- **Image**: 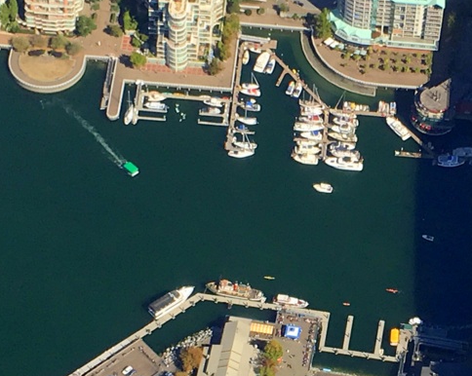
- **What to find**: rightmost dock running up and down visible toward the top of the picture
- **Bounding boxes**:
[319,104,341,161]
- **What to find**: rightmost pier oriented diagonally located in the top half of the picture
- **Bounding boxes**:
[269,42,310,88]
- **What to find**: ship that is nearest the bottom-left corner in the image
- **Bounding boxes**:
[149,283,197,314]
